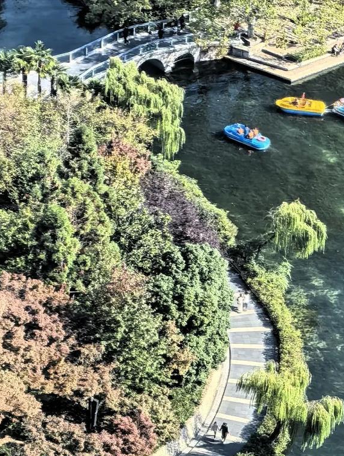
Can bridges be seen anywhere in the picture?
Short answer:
Yes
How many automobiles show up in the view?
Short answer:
0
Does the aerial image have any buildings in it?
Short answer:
No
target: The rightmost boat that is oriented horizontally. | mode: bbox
[279,101,324,119]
